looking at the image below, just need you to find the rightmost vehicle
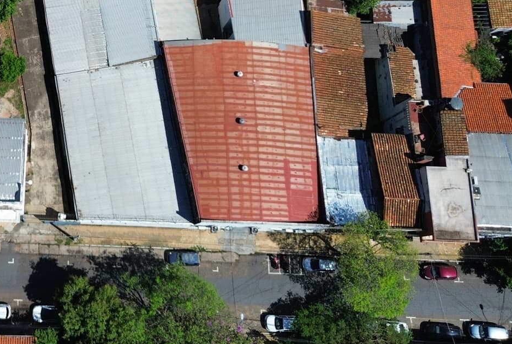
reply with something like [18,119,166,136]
[465,321,506,341]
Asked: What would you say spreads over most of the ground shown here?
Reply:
buildings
